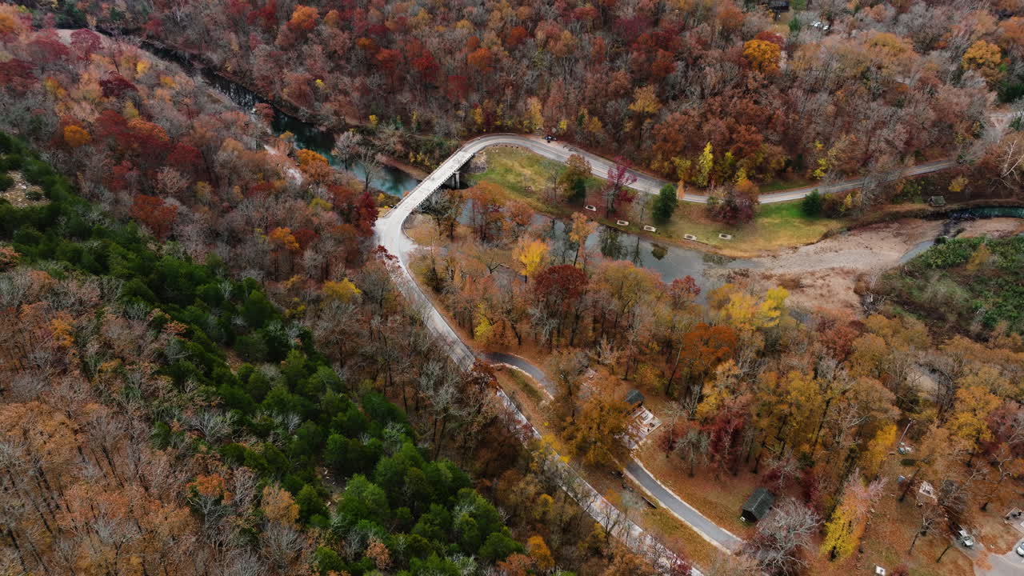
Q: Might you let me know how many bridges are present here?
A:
1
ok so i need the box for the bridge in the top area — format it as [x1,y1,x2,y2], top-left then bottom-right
[394,145,479,210]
